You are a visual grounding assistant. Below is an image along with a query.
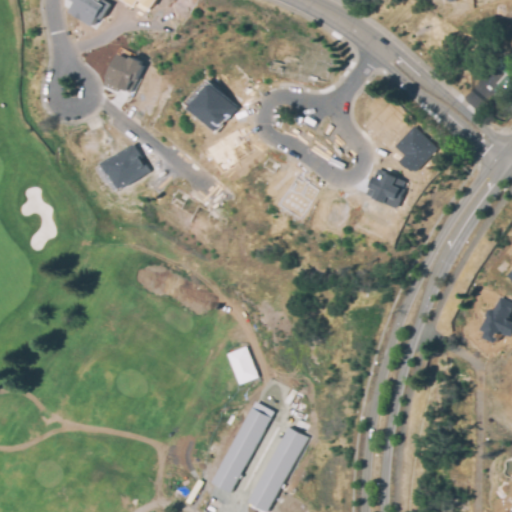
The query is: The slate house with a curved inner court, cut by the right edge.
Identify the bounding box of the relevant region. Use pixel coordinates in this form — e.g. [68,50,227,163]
[481,296,512,342]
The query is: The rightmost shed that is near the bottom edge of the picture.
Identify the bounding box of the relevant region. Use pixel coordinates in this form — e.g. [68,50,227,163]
[249,428,311,512]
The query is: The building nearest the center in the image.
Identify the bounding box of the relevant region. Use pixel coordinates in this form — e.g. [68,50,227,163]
[228,346,260,386]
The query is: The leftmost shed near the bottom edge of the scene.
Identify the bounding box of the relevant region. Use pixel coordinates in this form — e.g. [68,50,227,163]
[214,400,276,492]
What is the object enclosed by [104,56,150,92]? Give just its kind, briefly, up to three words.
house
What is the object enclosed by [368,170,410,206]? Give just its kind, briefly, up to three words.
house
